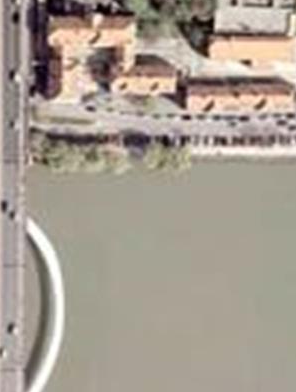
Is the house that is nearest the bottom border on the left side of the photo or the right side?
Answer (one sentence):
The house that is nearest the bottom border is on the right side of the image.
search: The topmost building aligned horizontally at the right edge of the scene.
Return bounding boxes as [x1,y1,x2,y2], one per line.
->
[213,0,296,34]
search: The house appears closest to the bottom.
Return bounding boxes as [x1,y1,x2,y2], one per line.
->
[185,80,296,112]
